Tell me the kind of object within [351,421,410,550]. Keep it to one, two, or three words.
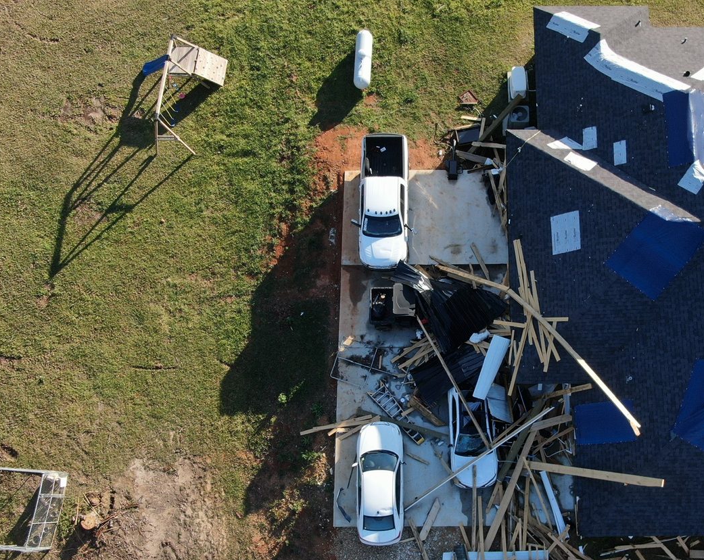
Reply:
car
